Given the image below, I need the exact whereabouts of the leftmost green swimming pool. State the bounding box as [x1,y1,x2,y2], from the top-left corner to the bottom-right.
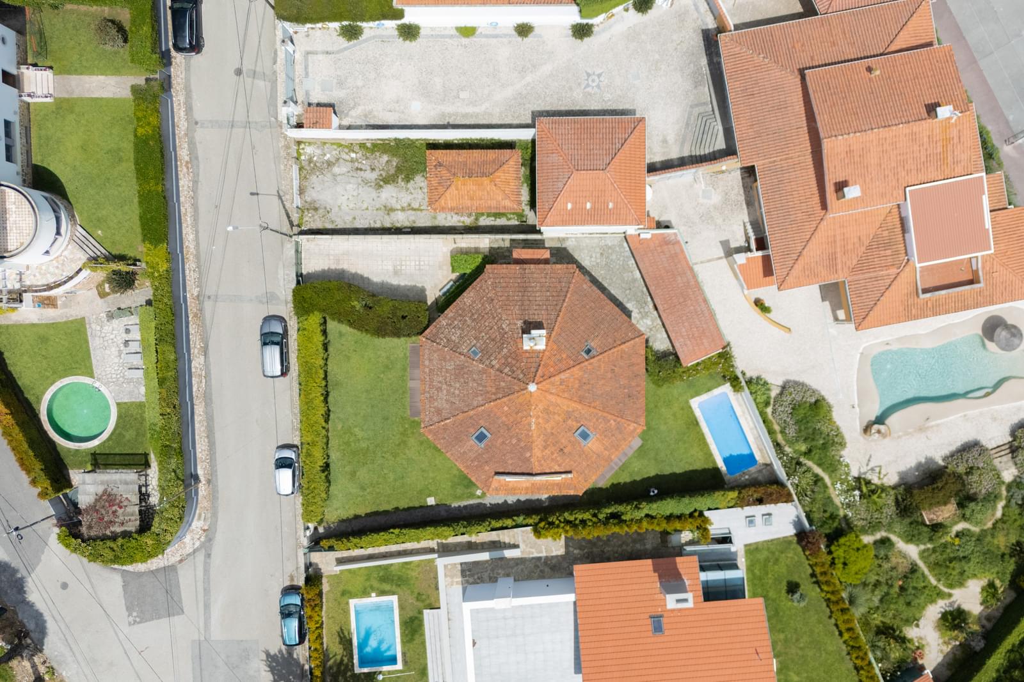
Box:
[40,374,117,451]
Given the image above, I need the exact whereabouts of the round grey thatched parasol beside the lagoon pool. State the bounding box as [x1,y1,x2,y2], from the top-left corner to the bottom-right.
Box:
[991,322,1021,352]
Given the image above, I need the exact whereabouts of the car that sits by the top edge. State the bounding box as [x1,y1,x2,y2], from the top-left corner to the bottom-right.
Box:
[171,0,206,54]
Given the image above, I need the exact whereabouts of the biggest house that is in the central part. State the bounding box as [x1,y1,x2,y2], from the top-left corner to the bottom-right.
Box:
[418,248,647,497]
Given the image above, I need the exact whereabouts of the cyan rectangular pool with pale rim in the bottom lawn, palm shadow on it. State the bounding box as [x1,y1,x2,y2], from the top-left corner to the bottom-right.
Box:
[354,601,397,668]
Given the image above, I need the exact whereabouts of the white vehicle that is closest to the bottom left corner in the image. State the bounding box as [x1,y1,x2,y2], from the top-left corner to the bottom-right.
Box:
[273,443,302,495]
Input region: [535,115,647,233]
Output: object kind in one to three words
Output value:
building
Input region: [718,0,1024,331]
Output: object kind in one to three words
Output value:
house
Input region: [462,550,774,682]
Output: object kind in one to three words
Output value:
house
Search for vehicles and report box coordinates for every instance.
[273,443,302,495]
[258,314,290,377]
[278,585,308,645]
[171,0,206,54]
